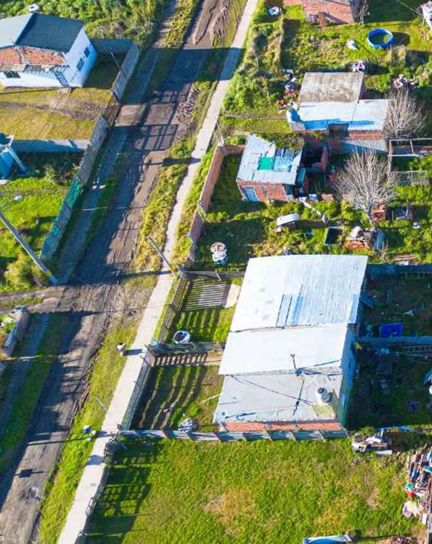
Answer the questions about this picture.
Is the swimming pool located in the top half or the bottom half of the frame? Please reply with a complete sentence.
The swimming pool is in the top half of the image.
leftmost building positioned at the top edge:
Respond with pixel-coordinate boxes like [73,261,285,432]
[0,13,101,88]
